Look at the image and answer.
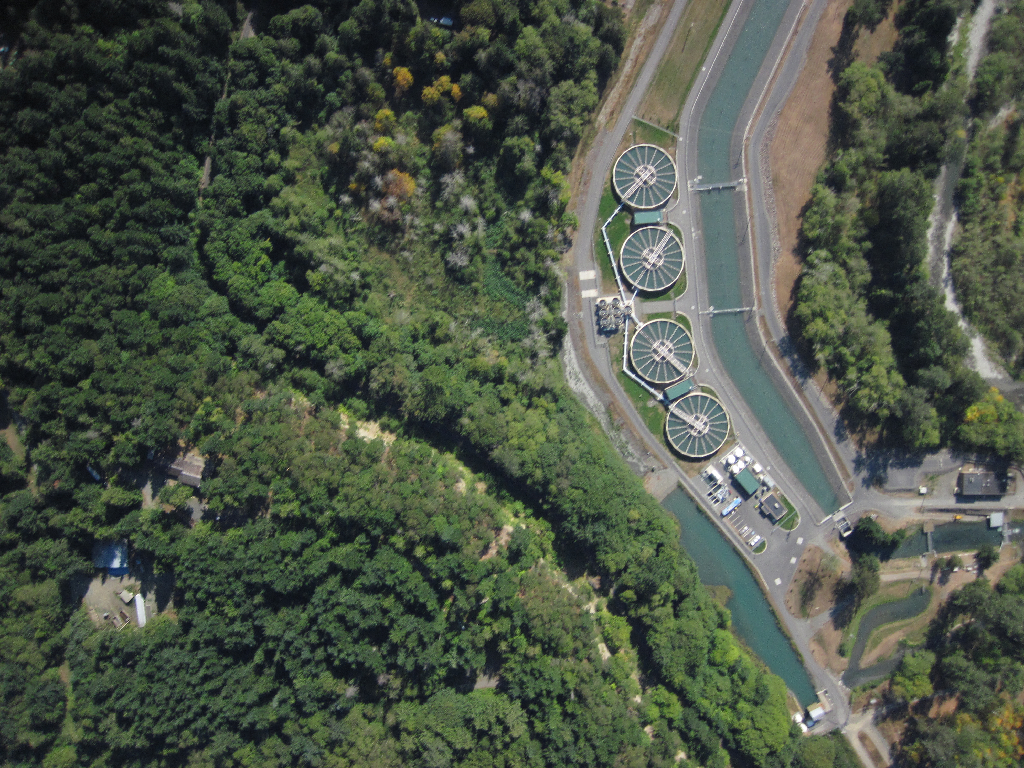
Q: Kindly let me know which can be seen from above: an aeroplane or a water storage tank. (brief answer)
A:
water storage tank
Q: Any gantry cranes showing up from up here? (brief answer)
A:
No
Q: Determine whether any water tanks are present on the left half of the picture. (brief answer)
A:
No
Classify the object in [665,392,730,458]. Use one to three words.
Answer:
water tank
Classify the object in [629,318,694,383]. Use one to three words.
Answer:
water tank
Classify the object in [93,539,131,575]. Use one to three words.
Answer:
barn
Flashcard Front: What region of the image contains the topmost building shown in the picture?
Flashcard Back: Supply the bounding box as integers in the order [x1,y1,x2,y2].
[633,211,663,225]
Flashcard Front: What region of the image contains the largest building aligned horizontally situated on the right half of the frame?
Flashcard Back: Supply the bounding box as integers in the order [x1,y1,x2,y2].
[961,473,1008,494]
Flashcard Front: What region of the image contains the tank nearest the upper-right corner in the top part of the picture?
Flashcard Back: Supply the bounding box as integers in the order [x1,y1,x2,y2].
[612,144,677,209]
